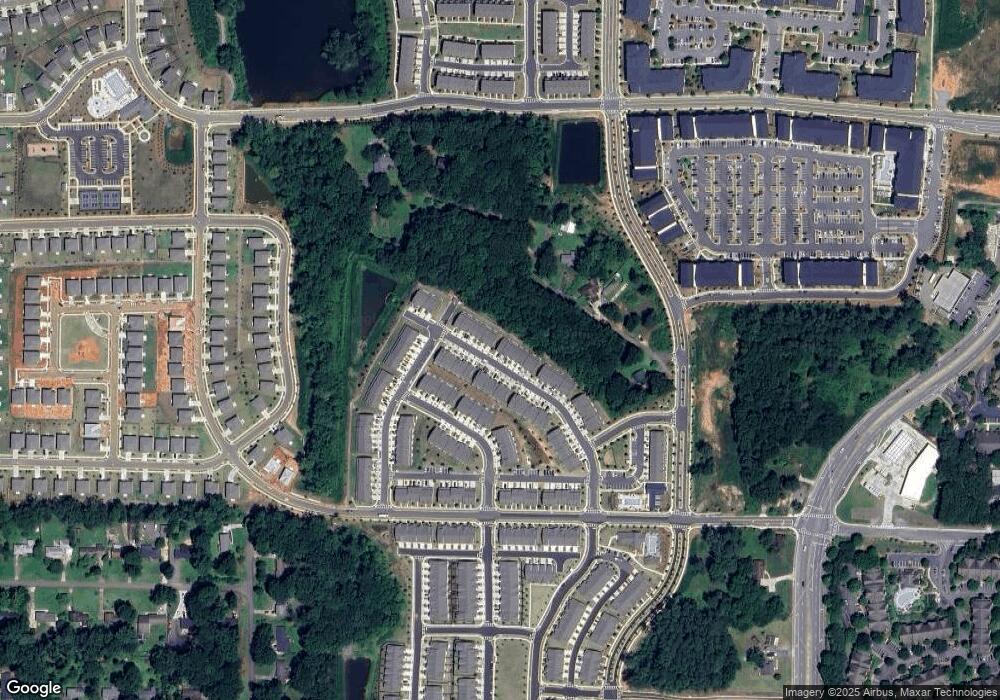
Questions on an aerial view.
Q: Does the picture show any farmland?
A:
No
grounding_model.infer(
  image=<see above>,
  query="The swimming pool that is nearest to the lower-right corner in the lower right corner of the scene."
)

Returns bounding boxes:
[894,587,922,611]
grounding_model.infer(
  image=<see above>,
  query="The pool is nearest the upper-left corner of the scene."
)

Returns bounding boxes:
[88,68,138,118]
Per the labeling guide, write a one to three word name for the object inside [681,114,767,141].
building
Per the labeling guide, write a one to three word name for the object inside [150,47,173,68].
house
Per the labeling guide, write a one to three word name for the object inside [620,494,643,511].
swimming pool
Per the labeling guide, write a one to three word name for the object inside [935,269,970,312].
building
